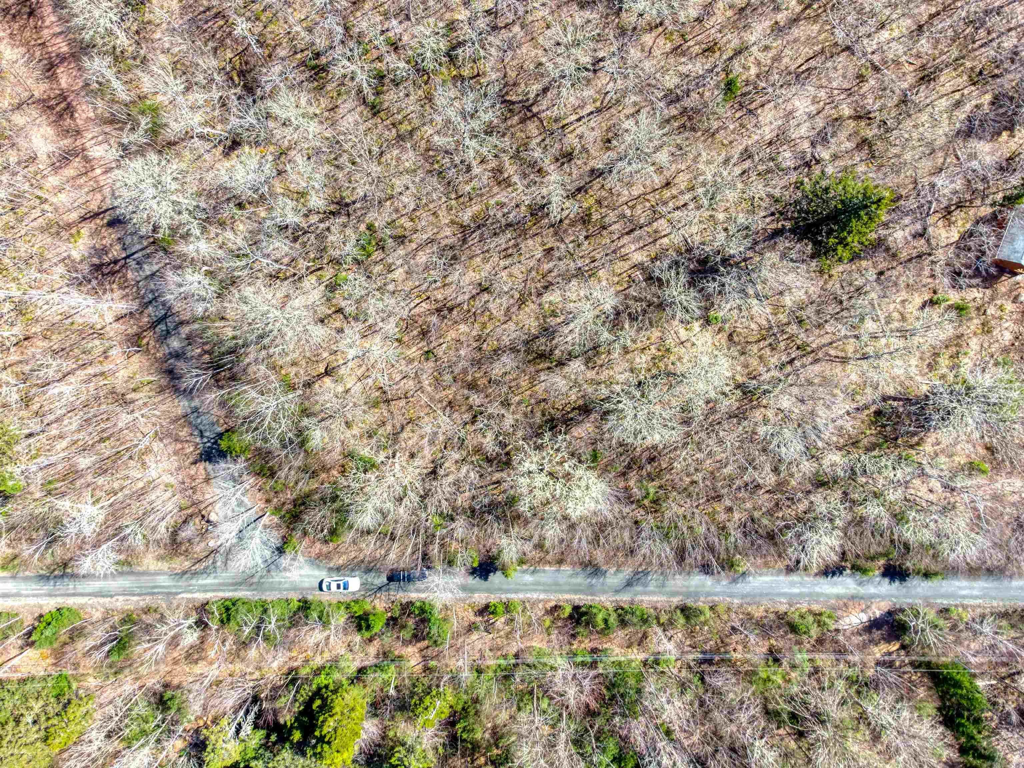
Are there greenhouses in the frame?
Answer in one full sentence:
No, I can't see a single greenhouse in this photo.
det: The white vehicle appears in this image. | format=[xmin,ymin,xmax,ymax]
[320,576,359,593]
